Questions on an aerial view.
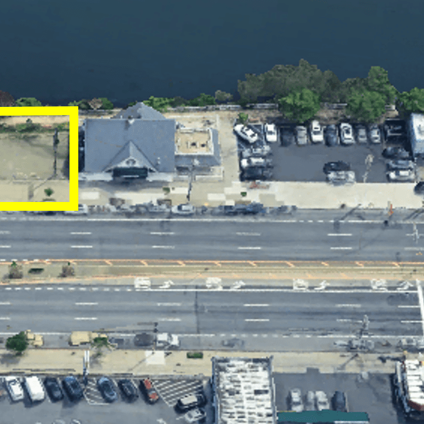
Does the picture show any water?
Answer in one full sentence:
Yes, there is water in the image.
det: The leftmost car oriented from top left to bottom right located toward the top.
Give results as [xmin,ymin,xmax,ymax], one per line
[233,125,257,144]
